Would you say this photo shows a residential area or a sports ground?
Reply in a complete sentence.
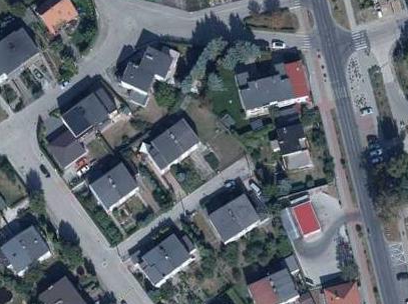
This looks like a residential area.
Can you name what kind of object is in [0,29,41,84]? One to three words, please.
house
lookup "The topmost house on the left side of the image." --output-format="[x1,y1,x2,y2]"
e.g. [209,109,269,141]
[39,0,79,36]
